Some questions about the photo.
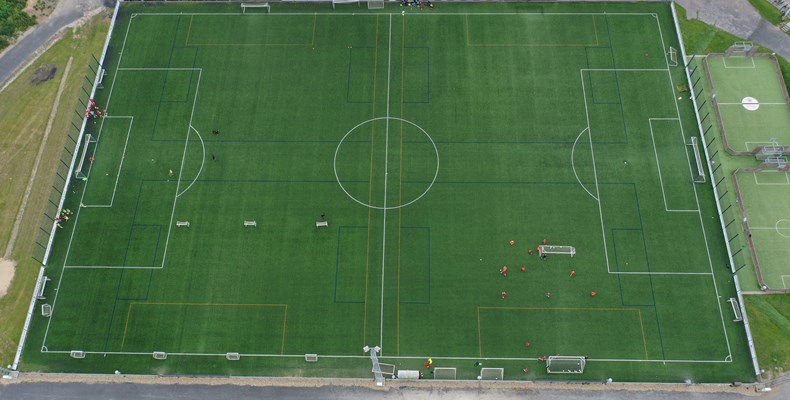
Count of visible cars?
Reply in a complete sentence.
Not a single car can be seen.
